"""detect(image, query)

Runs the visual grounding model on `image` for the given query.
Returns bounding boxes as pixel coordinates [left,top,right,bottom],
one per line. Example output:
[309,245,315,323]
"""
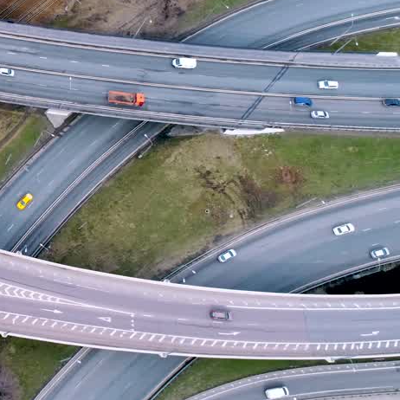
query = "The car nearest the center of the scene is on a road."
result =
[215,248,237,263]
